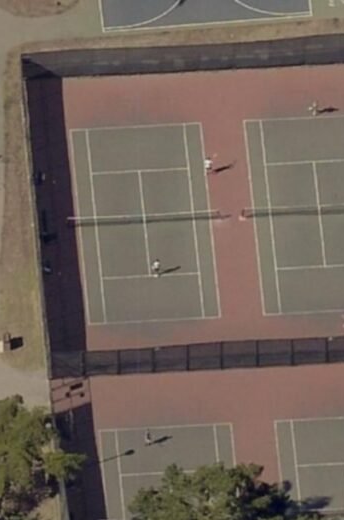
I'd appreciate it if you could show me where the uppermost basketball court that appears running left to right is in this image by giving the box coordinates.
[99,0,313,31]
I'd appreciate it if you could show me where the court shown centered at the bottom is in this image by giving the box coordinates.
[100,423,238,520]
